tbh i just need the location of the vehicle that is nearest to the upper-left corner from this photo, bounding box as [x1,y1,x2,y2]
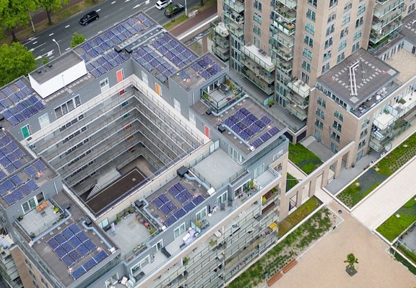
[77,8,100,25]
